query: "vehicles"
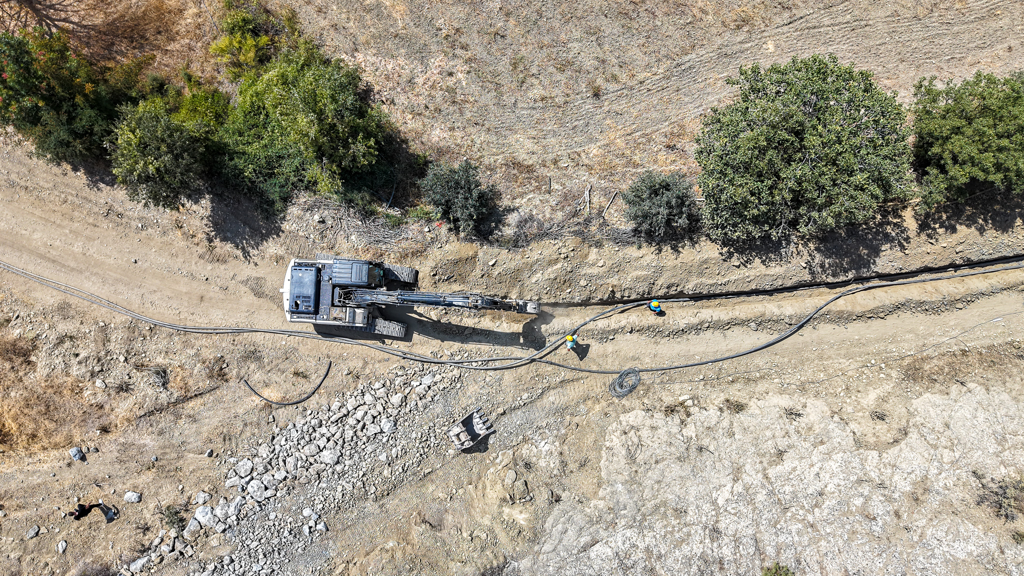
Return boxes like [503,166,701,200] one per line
[279,253,540,334]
